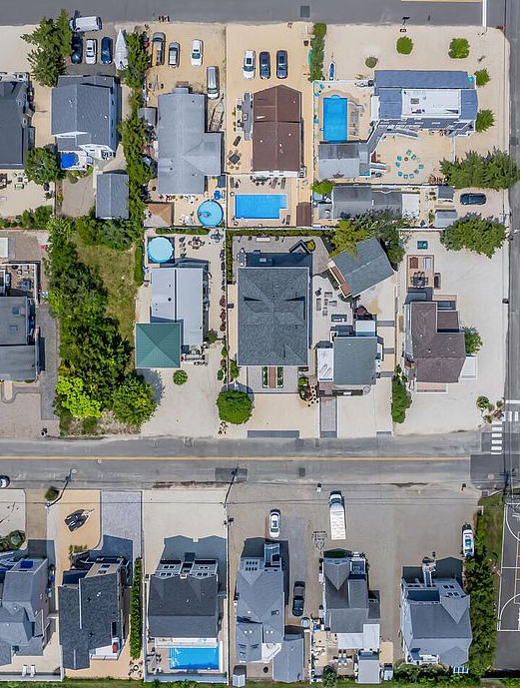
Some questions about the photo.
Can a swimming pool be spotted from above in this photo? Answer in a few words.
Yes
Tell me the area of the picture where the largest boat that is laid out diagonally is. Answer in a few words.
bottom left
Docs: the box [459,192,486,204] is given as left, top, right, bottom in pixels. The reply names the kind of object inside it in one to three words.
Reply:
vehicle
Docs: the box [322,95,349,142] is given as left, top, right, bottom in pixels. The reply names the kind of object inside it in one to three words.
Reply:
swimming pool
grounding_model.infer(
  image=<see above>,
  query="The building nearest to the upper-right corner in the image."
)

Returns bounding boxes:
[368,70,479,149]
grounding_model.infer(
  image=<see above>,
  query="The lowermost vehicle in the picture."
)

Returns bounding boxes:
[292,581,305,615]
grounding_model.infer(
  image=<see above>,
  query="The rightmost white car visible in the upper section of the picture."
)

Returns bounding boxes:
[243,50,256,78]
